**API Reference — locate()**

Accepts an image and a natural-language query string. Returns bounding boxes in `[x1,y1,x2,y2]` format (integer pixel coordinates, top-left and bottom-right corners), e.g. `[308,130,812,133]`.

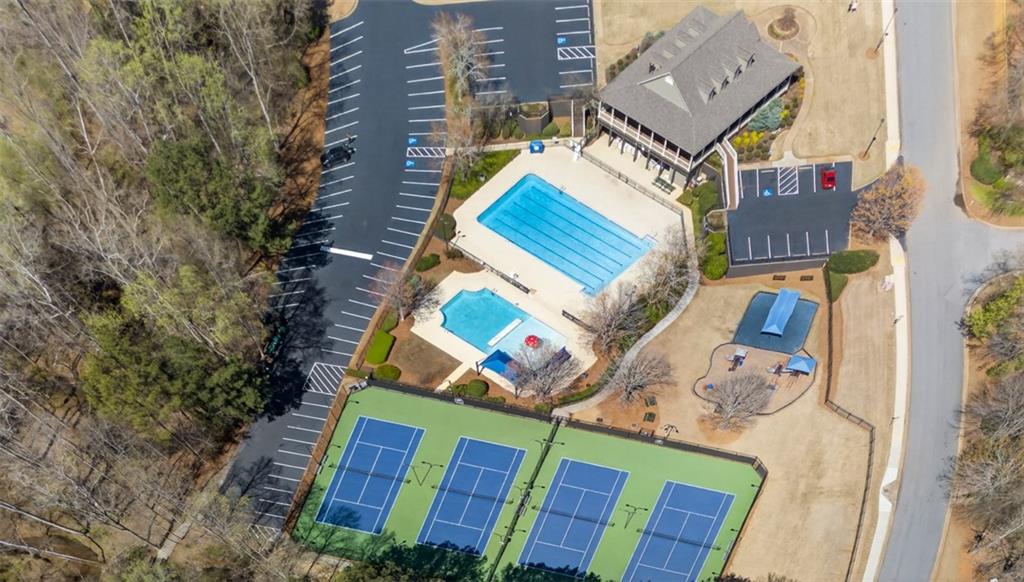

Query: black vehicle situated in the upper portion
[321,141,351,167]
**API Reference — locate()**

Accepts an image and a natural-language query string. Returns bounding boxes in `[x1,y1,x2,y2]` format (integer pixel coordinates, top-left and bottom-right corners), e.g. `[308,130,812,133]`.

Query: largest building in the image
[600,5,802,172]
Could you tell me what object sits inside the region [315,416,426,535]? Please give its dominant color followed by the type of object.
blue tennis court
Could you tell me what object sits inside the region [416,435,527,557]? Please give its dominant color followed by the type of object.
blue tennis court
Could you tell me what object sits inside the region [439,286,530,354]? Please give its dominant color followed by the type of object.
blue swimming pool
